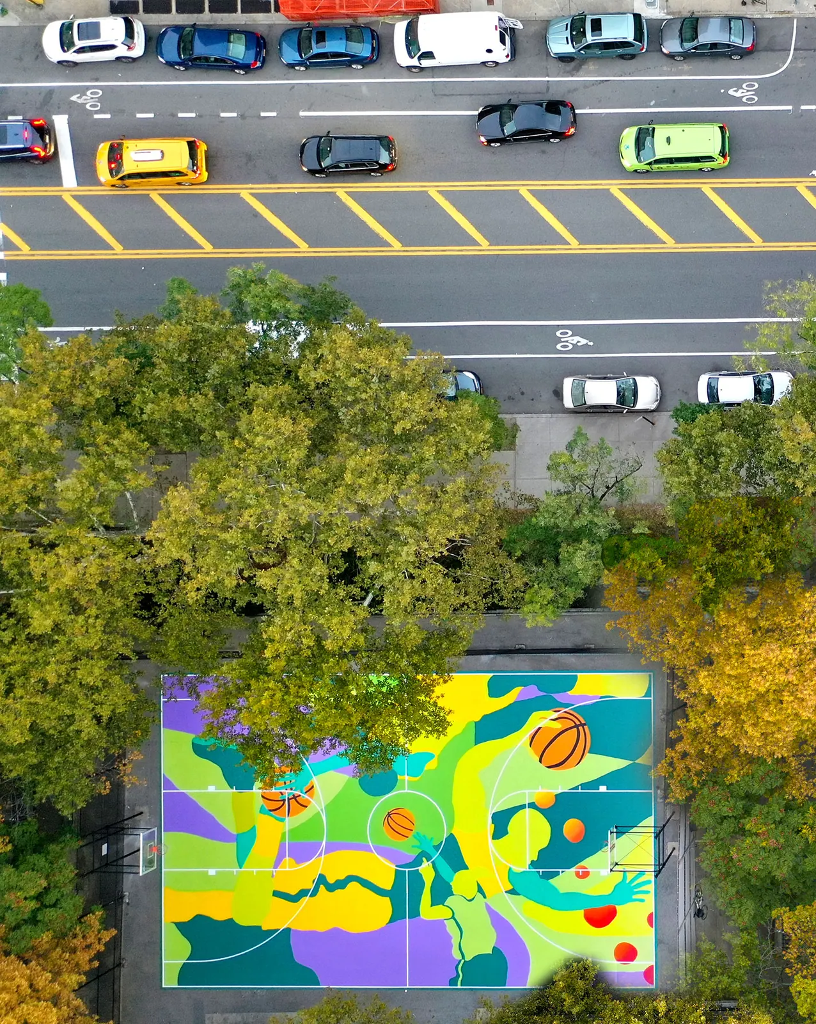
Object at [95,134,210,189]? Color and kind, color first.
yellow car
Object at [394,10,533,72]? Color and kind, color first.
white van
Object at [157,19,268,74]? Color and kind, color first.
blue car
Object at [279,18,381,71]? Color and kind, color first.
blue car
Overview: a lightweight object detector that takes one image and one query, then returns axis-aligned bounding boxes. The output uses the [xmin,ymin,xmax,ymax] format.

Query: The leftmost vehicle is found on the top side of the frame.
[0,117,56,165]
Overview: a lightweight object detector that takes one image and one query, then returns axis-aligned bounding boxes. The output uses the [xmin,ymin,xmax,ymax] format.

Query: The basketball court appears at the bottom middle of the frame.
[160,670,658,993]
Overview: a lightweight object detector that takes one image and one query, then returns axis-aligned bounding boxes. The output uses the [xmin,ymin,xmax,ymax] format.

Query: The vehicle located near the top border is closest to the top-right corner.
[661,10,757,62]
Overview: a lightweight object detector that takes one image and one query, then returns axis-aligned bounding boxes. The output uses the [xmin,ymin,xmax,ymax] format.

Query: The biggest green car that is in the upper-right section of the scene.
[619,119,730,173]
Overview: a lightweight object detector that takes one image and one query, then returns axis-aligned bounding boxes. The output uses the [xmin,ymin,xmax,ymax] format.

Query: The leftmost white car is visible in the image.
[41,13,148,68]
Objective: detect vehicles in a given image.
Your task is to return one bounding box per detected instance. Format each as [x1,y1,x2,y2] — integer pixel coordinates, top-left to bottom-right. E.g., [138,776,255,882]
[546,8,648,63]
[619,119,730,173]
[95,134,210,189]
[476,95,578,148]
[41,13,148,68]
[279,18,381,71]
[300,127,399,178]
[0,117,56,165]
[661,10,757,62]
[561,368,662,414]
[157,19,268,74]
[394,10,533,72]
[697,364,794,410]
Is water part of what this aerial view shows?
No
